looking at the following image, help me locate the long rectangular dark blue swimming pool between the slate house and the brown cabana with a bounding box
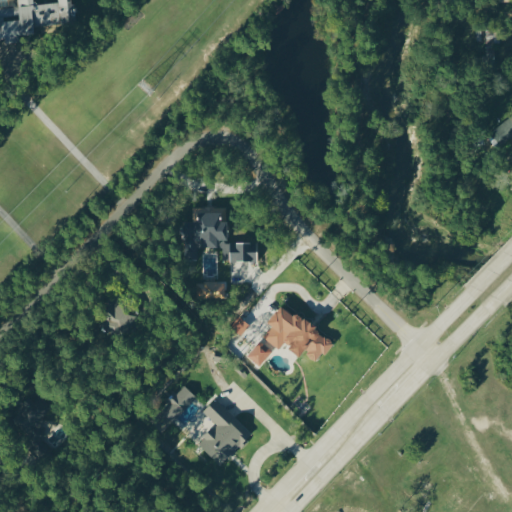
[202,252,219,278]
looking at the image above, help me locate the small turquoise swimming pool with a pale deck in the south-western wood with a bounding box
[50,424,67,446]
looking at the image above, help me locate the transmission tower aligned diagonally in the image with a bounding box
[139,79,154,96]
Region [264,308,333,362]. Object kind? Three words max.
house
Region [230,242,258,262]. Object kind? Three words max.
building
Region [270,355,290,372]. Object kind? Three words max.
swimming pool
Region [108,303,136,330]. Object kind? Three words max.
house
